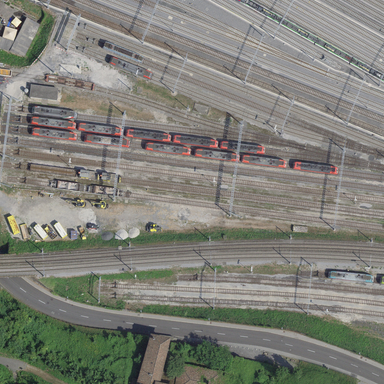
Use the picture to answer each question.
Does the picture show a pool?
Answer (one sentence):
No, there isn't any pool down there.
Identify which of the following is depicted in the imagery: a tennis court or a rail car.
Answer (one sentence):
I can see a rail car in this picture.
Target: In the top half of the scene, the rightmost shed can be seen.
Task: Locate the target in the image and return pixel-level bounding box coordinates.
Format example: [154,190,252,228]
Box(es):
[30,82,58,100]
